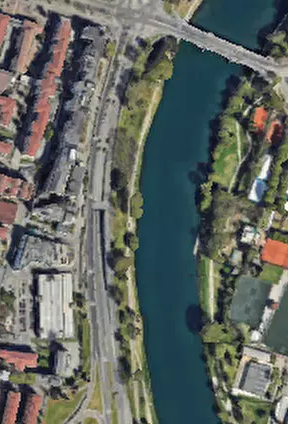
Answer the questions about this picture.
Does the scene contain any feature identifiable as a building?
Yes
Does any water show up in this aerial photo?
Yes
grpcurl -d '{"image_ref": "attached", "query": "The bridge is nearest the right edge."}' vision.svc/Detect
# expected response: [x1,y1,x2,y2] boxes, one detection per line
[179,21,288,86]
